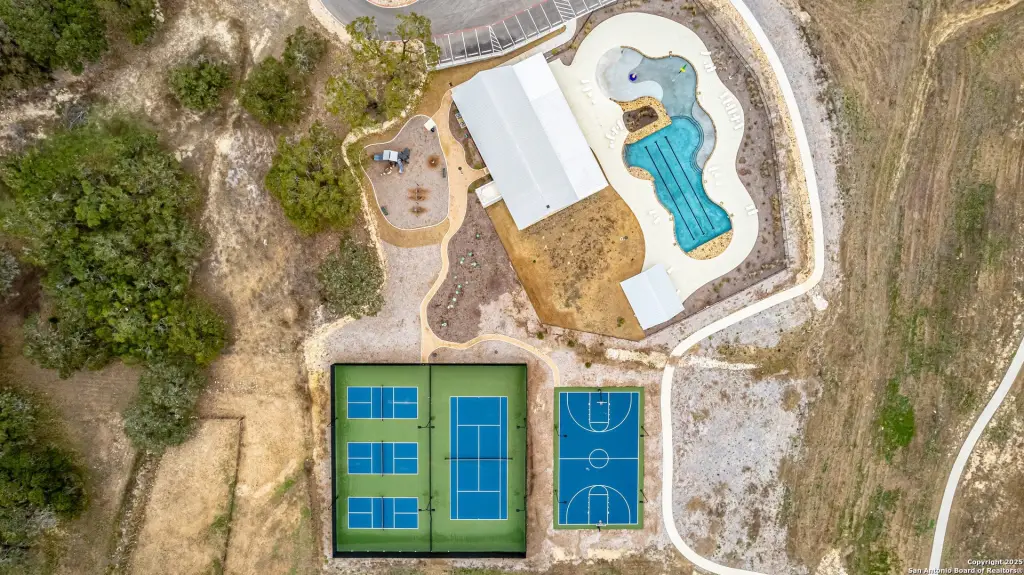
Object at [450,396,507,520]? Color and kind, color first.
blue tennis court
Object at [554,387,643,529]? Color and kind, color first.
blue basketball court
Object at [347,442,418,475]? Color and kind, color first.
blue sports court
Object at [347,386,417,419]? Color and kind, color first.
blue sports court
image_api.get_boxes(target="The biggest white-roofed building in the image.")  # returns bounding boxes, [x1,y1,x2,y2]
[450,52,609,230]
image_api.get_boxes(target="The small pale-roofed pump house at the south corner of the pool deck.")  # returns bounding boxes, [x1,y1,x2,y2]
[620,264,684,330]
